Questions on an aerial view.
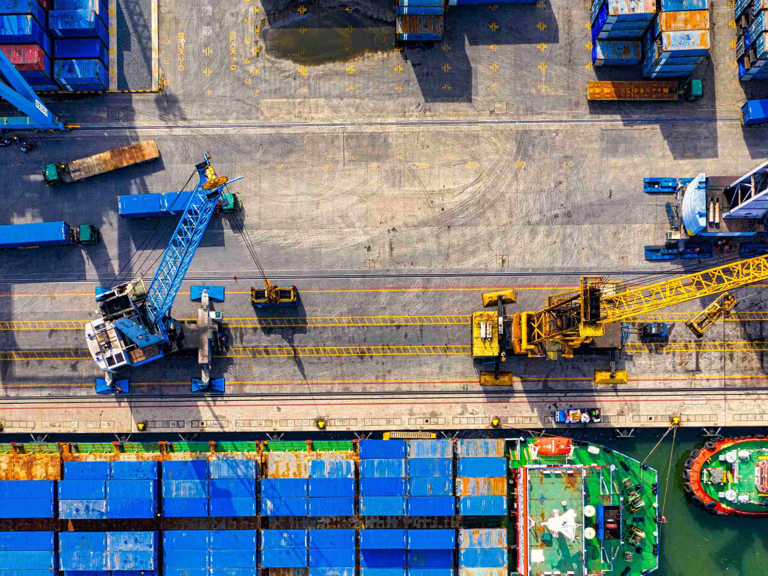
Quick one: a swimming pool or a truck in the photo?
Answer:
truck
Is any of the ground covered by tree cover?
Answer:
No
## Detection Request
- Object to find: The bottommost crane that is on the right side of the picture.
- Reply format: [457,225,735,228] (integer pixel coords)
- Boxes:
[469,251,768,386]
